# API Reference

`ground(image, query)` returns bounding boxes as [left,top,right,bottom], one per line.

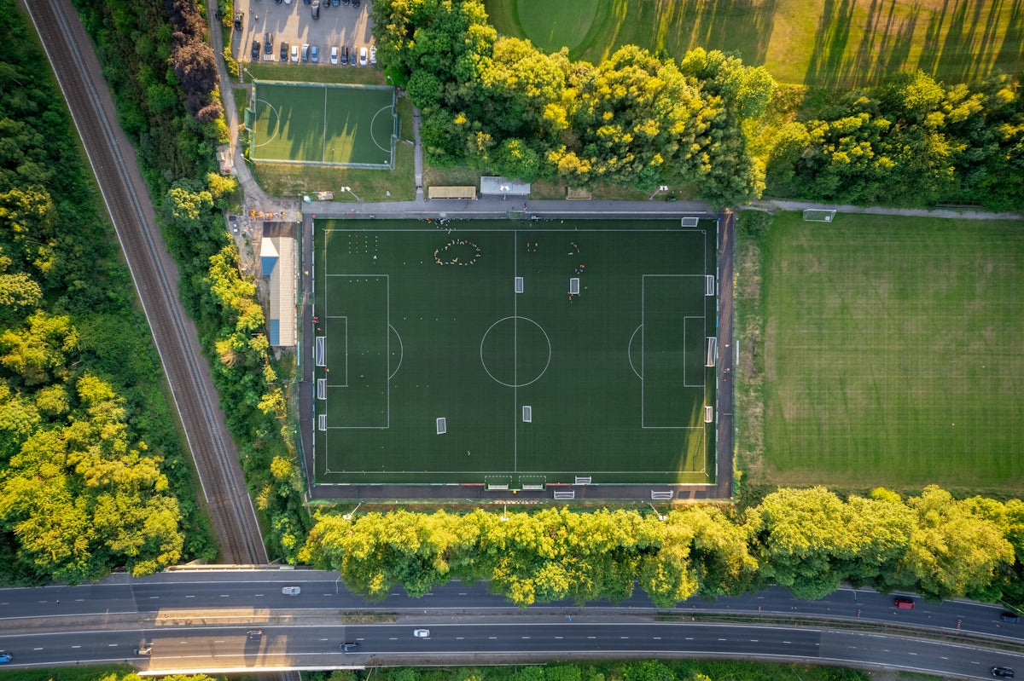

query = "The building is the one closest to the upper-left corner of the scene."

[258,237,298,346]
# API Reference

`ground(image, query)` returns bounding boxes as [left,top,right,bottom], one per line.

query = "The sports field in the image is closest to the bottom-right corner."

[762,210,1024,491]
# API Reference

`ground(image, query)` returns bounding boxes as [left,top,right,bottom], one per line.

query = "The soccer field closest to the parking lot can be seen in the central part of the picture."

[314,212,717,492]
